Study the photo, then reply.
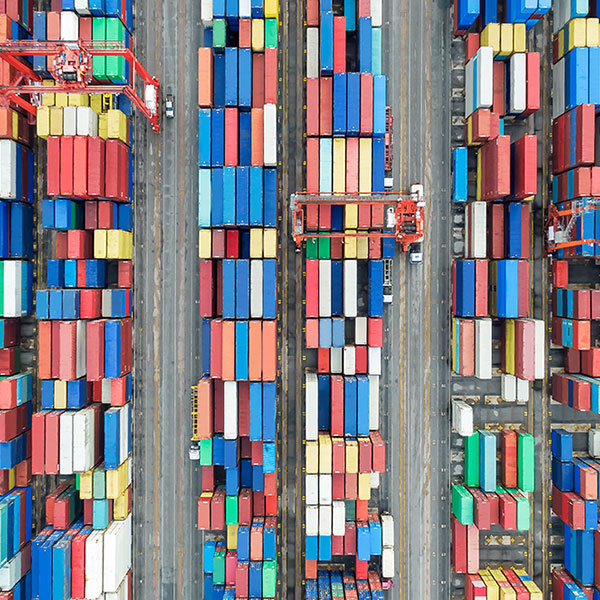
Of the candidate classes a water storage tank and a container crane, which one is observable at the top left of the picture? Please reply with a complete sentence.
You can see a container crane at the top left of the picture.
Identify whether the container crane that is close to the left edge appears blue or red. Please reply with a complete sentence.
In this view, the container crane that is close to the left edge is red.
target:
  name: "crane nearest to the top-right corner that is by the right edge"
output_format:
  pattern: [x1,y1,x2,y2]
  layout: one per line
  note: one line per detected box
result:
[543,193,600,257]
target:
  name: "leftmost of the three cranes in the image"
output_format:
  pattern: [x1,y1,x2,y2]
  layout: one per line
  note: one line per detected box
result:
[0,39,161,130]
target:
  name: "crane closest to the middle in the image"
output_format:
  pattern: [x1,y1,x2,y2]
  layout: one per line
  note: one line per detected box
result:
[290,189,432,253]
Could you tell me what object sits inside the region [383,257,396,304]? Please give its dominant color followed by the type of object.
white vehicle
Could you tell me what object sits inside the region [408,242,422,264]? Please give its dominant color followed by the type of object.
white vehicle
